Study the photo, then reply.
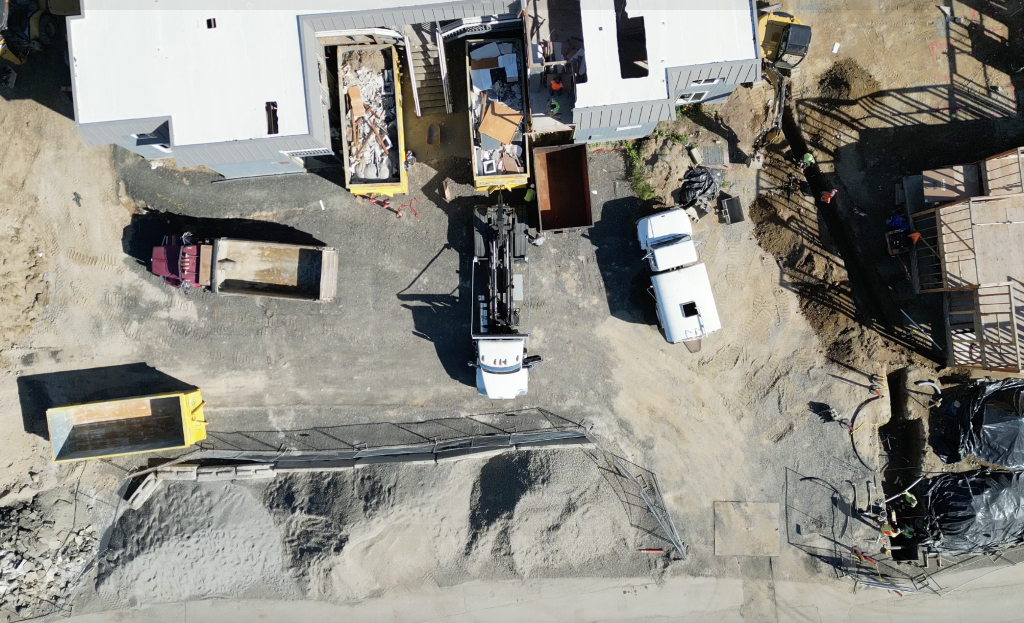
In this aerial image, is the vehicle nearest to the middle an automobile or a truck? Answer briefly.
truck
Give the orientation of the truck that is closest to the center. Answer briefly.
from top to bottom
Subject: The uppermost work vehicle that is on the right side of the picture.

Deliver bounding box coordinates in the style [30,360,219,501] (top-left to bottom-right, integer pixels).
[746,10,816,168]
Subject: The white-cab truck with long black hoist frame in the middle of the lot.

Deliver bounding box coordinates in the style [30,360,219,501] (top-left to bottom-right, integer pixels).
[469,184,539,399]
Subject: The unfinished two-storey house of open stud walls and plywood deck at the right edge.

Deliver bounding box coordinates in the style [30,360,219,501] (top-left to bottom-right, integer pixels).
[896,147,1024,379]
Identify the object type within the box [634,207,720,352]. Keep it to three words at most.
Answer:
truck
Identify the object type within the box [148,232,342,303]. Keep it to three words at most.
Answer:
truck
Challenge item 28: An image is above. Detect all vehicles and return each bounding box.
[148,232,342,303]
[469,184,539,399]
[634,207,720,352]
[746,10,816,168]
[0,0,62,66]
